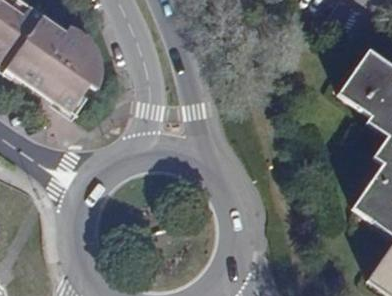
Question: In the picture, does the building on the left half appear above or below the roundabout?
above it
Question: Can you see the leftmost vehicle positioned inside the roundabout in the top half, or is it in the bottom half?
bottom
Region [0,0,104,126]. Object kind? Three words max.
building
